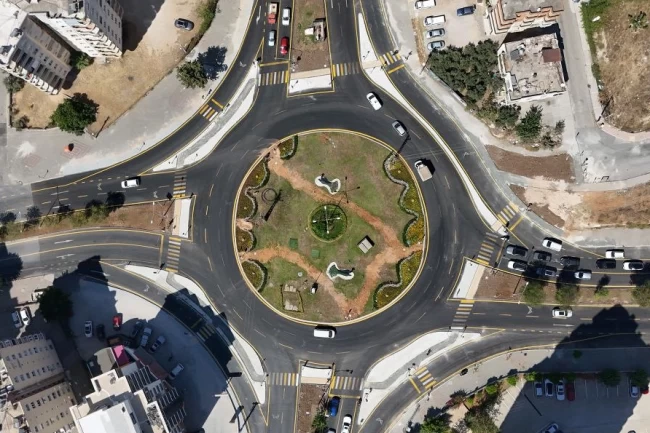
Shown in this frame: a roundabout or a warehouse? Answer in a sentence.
There is a roundabout in the scene.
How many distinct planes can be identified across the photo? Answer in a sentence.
There are no planes in this view.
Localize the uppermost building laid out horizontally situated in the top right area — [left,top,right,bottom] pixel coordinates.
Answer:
[486,0,567,37]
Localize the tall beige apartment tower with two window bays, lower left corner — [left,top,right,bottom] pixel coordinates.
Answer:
[0,336,76,433]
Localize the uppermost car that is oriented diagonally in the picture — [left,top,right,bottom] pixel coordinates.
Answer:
[367,93,381,110]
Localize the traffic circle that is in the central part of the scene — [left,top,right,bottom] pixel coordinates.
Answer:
[234,130,428,324]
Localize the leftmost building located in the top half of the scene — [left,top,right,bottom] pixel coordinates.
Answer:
[0,6,71,97]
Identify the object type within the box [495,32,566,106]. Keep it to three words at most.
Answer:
building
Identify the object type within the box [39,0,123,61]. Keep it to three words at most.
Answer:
building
